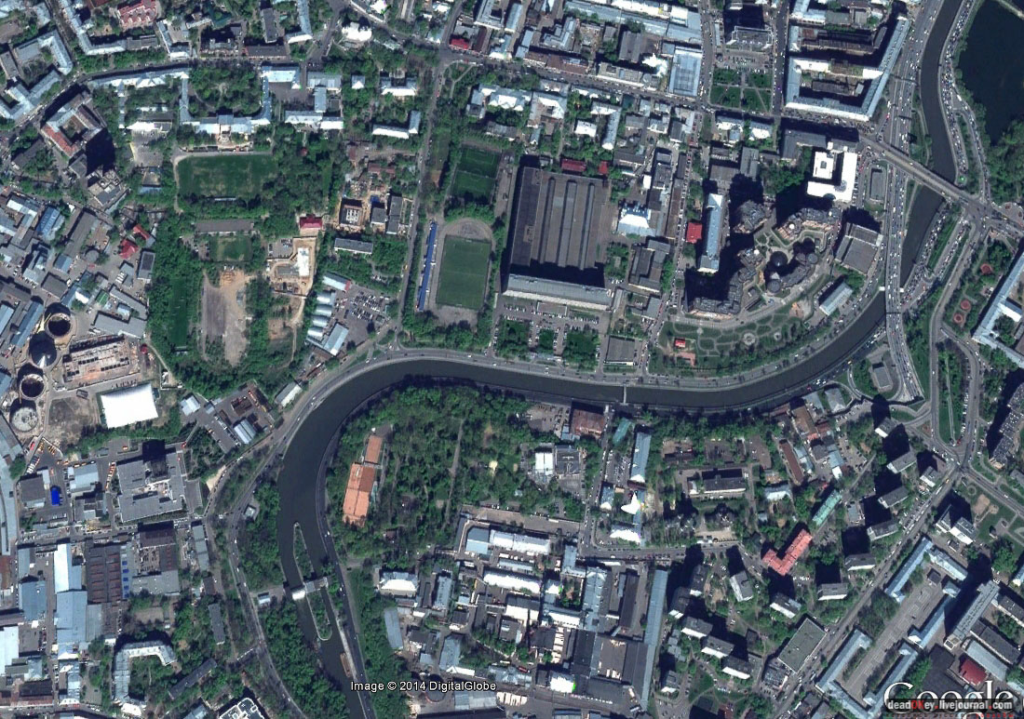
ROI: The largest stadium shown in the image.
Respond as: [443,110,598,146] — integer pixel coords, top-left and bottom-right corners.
[433,217,496,325]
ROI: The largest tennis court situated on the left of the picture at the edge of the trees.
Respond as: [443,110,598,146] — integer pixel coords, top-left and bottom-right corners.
[343,461,375,526]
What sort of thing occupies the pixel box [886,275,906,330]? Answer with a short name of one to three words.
bridge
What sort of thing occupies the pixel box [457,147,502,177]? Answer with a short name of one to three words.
soccer field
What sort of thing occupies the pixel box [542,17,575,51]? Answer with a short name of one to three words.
building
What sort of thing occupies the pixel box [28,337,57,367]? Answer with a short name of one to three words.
storage tank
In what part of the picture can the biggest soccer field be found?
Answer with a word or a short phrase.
top left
